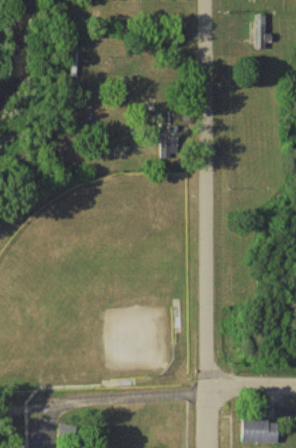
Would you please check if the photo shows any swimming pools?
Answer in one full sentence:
No, no swimming pool can be seen from above.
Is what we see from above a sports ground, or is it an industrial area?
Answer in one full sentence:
What you see here is a sports ground.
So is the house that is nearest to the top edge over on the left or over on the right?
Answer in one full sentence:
You can find the house that is nearest to the top edge on the right side of the picture.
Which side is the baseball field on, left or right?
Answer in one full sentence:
The baseball field sits on the left side.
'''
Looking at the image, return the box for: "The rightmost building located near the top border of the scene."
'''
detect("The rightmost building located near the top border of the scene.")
[253,14,272,50]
